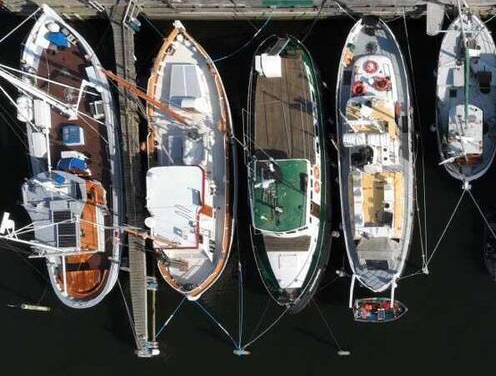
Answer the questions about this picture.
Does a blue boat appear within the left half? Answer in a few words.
No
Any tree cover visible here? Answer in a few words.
No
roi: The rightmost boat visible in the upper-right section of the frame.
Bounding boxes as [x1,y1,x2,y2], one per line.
[436,0,496,193]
